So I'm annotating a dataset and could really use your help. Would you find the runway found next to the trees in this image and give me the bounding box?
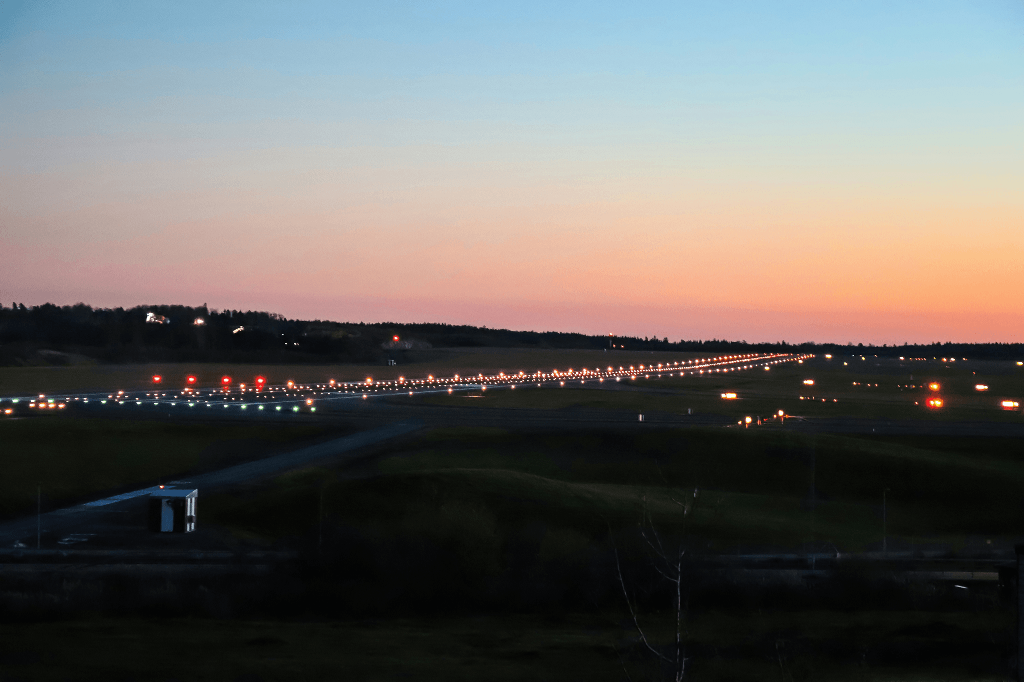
[0,354,815,422]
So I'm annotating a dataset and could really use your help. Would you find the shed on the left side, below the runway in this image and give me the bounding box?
[149,485,195,531]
